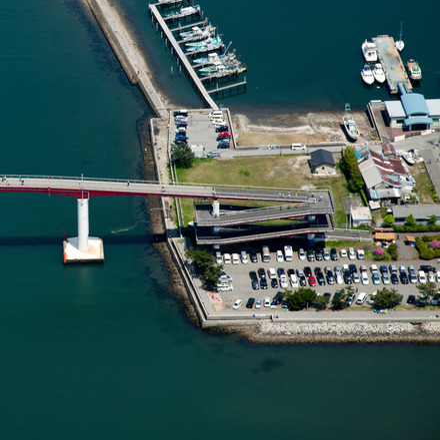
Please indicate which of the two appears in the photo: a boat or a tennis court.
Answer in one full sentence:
The one in the frame is a boat.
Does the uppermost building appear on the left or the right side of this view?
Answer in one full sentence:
The uppermost building sits on the right side.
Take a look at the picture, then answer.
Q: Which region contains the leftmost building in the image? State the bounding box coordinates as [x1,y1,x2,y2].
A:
[307,149,338,179]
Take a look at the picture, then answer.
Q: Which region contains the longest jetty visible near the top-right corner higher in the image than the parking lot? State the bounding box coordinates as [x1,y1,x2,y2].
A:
[372,33,413,96]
